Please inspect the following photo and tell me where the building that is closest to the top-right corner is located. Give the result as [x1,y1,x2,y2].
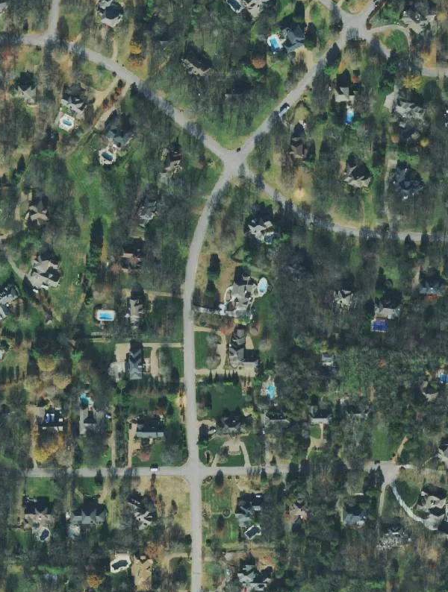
[401,6,436,29]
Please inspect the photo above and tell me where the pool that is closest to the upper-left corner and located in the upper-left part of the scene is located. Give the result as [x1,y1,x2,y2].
[60,114,75,129]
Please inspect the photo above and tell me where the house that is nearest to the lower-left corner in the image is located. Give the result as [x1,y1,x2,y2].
[22,502,50,523]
